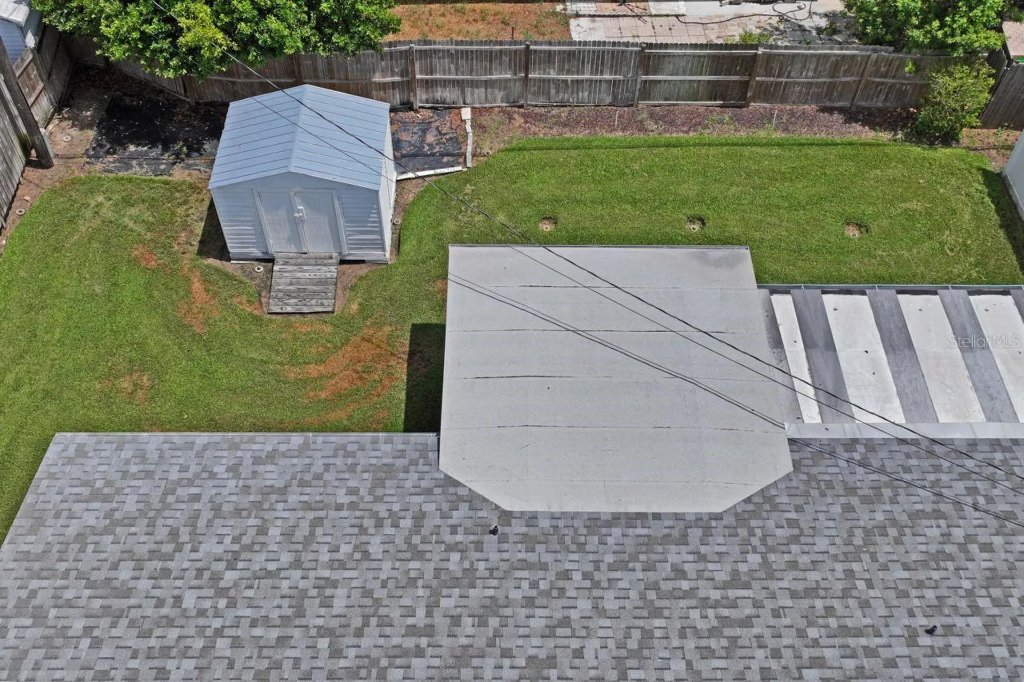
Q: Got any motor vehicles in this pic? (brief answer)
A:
No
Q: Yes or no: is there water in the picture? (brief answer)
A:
No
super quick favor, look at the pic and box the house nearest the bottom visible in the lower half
[0,243,1024,682]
